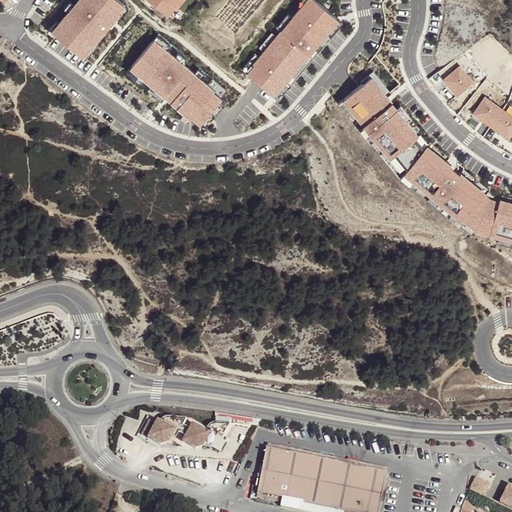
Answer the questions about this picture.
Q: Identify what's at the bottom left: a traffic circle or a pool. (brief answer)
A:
traffic circle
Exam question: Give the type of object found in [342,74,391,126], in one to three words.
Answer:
building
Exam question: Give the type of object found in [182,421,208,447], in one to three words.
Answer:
house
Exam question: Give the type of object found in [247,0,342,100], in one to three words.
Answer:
building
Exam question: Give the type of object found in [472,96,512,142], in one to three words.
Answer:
house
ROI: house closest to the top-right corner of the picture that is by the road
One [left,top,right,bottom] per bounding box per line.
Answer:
[434,66,474,96]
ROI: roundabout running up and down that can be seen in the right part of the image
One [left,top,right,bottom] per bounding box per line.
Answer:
[474,280,512,384]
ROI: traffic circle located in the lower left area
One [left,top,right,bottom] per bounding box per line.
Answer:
[52,348,124,420]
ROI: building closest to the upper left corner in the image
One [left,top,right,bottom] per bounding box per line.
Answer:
[52,0,126,60]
